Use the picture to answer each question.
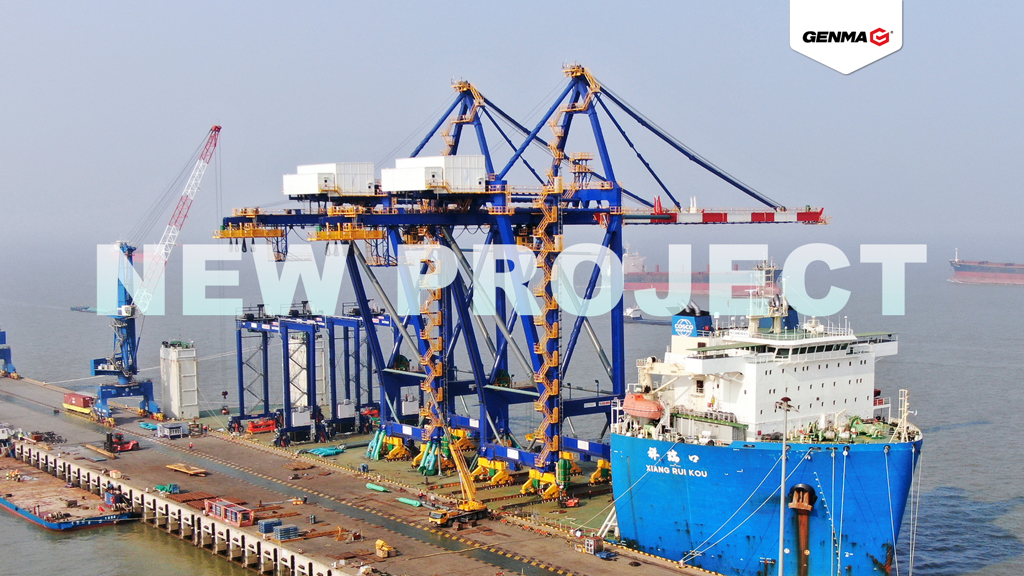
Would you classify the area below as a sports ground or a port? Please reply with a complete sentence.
It's a port.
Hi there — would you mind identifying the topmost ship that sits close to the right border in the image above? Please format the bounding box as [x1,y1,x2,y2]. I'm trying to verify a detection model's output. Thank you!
[933,237,1024,286]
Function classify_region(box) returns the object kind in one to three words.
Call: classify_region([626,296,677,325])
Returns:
ship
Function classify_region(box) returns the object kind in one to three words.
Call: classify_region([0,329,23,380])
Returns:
crane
